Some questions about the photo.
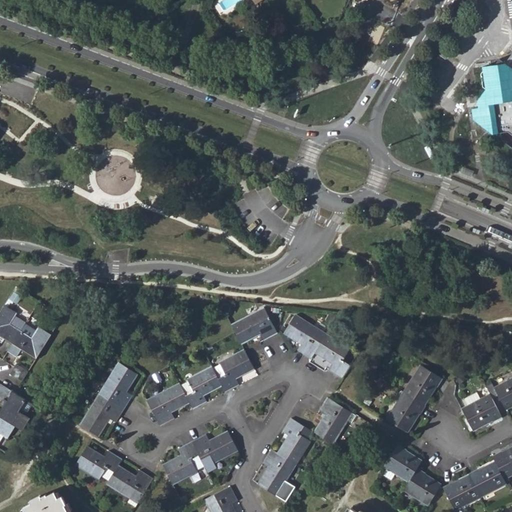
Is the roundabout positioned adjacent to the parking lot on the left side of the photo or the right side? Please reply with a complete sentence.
The roundabout positioned adjacent to the parking lot sits on the right side.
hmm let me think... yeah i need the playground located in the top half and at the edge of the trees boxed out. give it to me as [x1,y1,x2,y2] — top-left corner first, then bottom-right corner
[90,150,142,209]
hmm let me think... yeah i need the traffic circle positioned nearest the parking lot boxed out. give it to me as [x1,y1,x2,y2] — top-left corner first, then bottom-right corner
[306,128,382,206]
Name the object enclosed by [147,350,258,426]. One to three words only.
house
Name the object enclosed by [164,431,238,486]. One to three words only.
house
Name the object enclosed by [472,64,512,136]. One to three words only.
building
